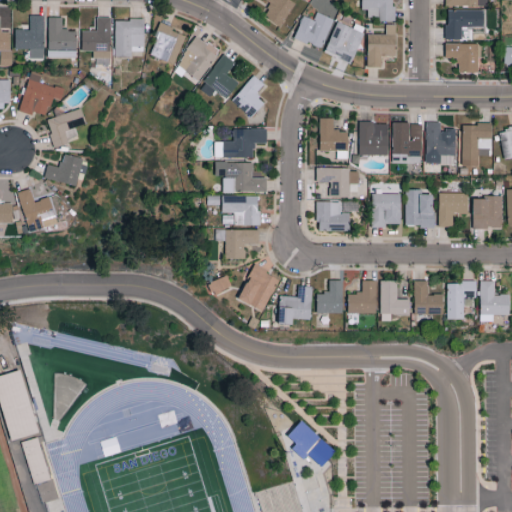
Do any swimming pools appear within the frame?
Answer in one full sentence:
Yes, the photo shows a swimming pool.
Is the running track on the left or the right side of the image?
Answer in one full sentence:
The running track is on the left side of the image.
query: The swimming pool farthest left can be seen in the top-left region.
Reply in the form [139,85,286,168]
[64,85,90,112]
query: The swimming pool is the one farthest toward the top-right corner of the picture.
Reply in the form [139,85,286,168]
[360,156,390,174]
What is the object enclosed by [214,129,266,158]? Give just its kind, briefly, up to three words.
house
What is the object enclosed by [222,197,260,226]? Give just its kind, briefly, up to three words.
house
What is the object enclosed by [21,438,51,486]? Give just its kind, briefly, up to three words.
building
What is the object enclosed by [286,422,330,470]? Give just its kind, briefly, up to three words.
building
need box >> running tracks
[47,378,262,512]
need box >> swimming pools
[360,156,390,174]
[196,133,214,160]
[64,85,90,112]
